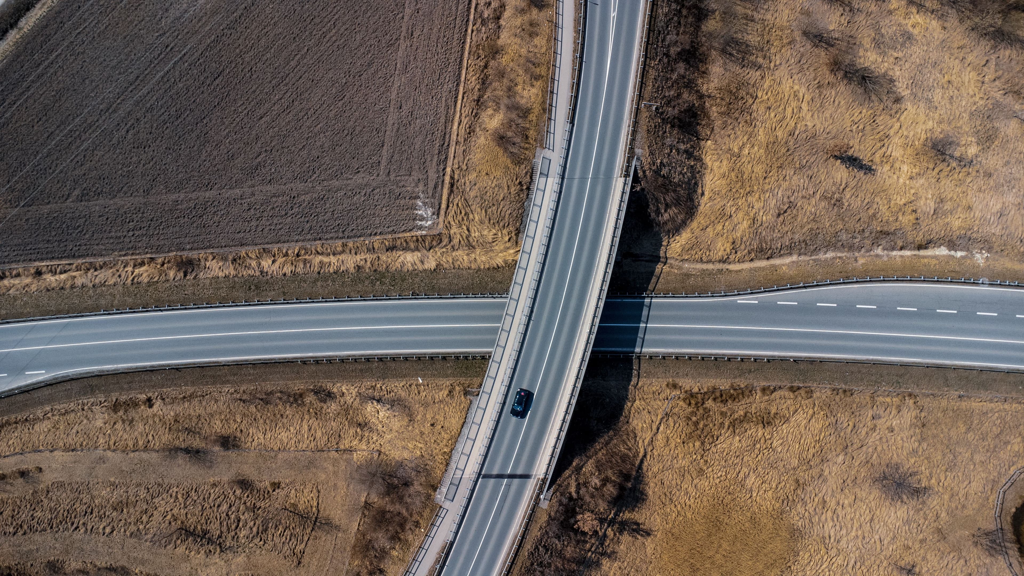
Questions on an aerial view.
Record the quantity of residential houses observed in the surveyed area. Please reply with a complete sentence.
I count no residential houses.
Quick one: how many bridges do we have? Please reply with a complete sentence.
In total, there is 1 bridge in the scene.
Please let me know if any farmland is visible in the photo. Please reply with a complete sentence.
Yes, farmland can be seen from above here.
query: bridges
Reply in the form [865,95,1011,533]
[441,154,636,502]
